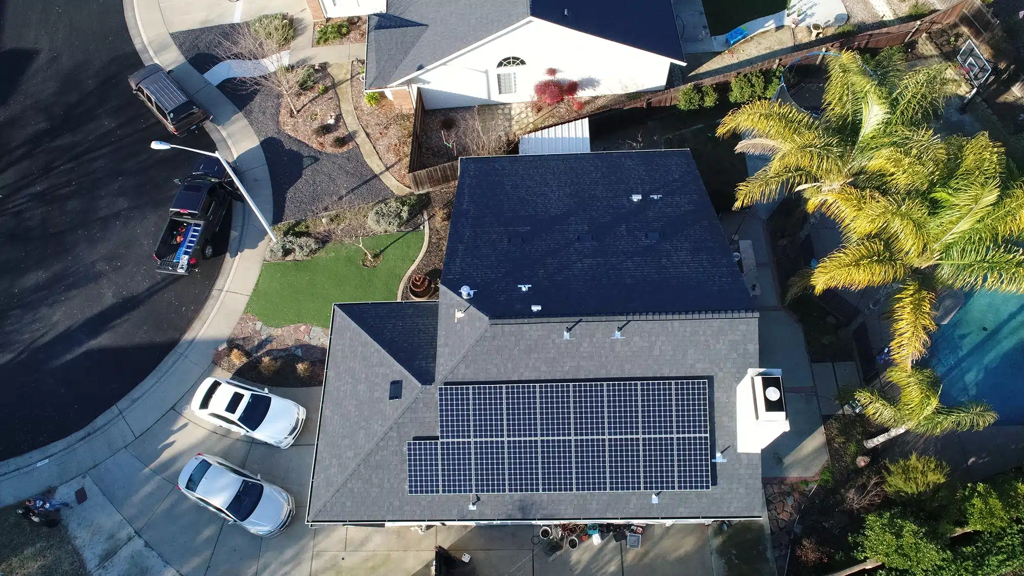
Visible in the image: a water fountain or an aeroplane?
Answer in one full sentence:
Visible in the photo is a water fountain.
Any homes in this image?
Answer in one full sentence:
Yes, this view includes a home.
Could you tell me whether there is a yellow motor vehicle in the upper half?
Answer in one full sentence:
No, no yellow motor vehicle appears in the upper half.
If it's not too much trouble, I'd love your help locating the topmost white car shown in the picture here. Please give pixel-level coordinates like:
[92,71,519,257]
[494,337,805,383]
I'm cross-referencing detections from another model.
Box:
[189,386,307,455]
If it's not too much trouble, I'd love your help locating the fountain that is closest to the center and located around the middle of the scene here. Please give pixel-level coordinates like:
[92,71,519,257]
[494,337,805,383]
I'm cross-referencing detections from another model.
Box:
[405,272,434,298]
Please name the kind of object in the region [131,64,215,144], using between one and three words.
car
